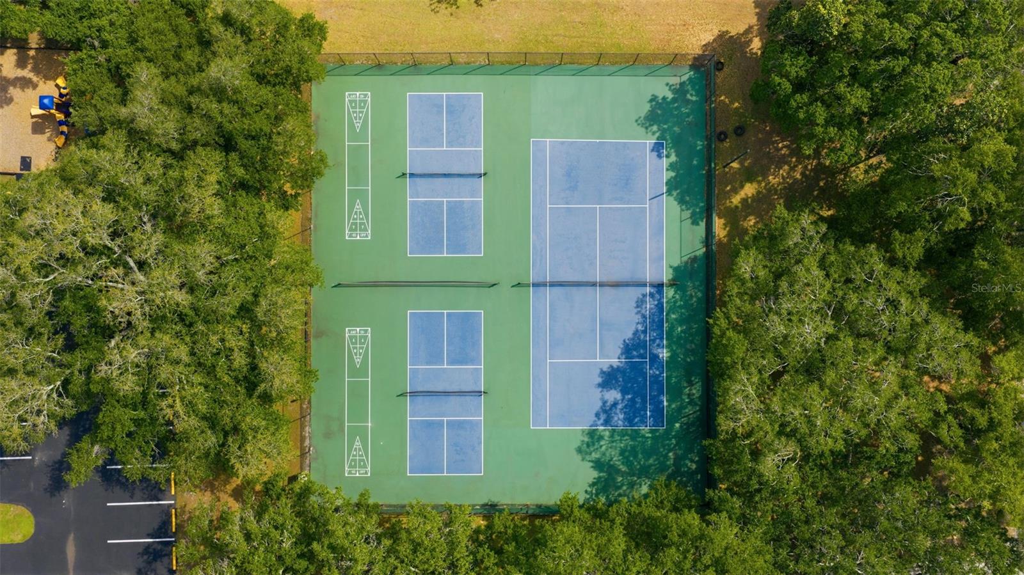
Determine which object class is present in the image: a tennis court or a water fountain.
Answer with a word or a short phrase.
tennis court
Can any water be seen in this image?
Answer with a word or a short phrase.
No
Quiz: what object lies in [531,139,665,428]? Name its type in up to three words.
tennis court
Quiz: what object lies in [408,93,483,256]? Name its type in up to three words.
sports court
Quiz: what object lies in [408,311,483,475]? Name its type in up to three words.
sports court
